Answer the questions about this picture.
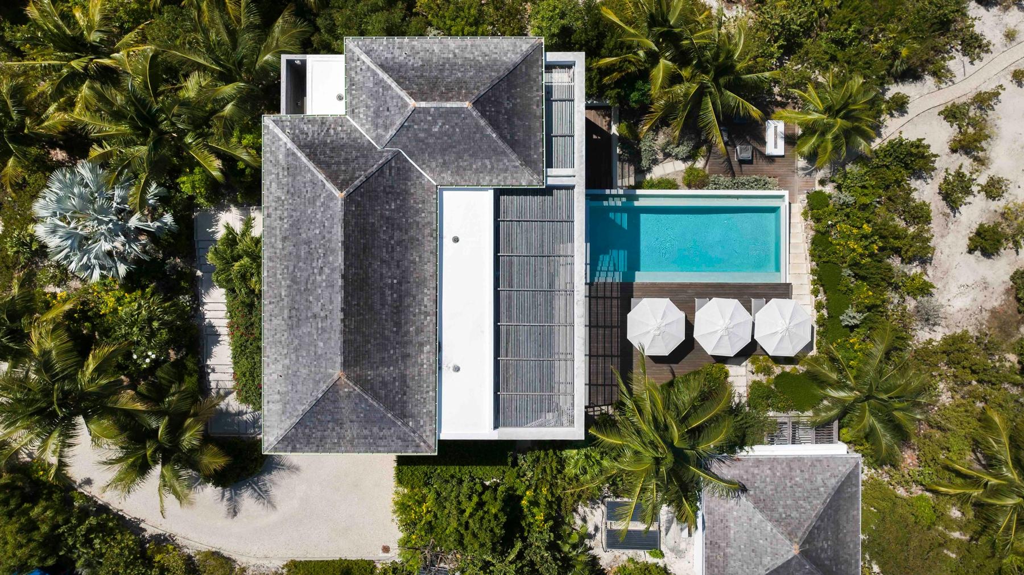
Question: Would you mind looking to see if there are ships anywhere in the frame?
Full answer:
No, I can't see a single ship in this photo.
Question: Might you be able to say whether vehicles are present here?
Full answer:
No, there isn't any vehicle down there.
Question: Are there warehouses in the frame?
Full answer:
No, the picture doesn't show any warehouse.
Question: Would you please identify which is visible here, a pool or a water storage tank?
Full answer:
It is a pool that can be seen here.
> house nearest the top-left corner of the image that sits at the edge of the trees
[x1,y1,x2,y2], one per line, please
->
[261,35,589,456]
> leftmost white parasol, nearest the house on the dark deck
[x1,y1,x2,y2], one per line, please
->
[627,298,685,356]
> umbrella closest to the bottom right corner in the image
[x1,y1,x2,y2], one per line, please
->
[753,298,812,357]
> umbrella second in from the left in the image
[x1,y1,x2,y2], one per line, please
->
[693,298,753,357]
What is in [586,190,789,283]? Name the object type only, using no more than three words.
swimming pool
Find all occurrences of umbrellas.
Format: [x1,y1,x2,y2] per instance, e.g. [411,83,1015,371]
[753,298,812,357]
[693,298,753,357]
[627,298,685,356]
